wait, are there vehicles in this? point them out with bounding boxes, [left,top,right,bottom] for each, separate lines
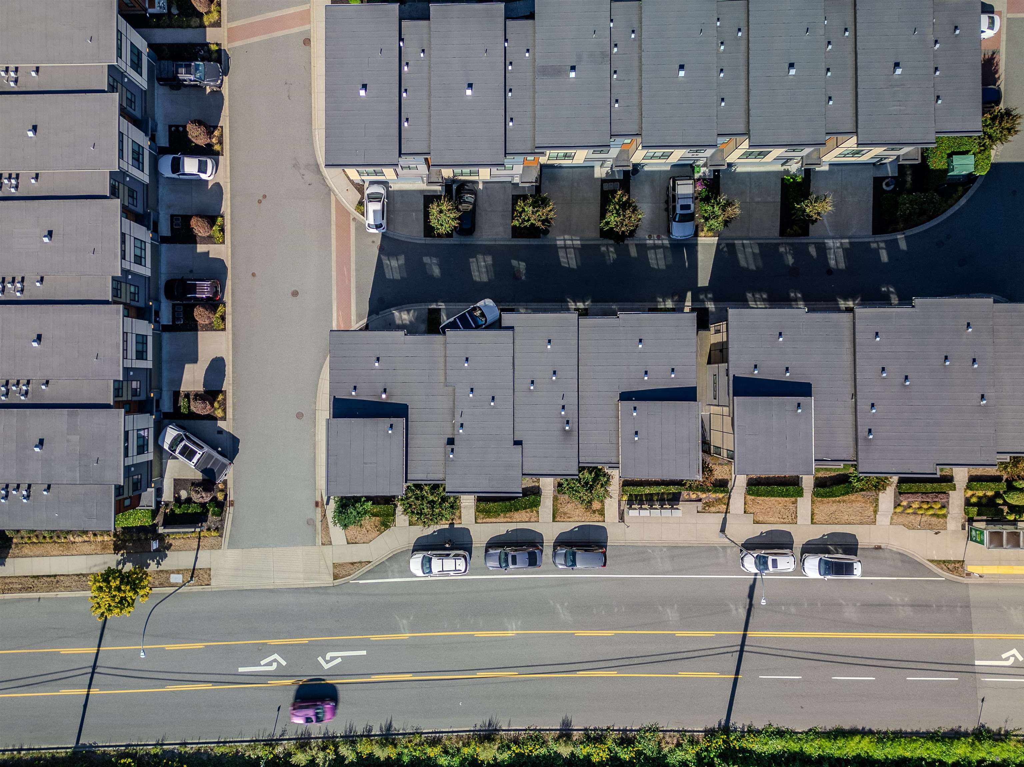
[362,182,389,235]
[440,298,500,334]
[667,175,699,240]
[165,275,225,304]
[409,550,471,580]
[983,81,1009,111]
[453,182,480,237]
[287,698,337,727]
[738,549,797,577]
[982,11,1007,41]
[800,552,863,582]
[552,545,608,573]
[158,152,218,180]
[159,58,226,89]
[484,547,543,575]
[162,426,235,481]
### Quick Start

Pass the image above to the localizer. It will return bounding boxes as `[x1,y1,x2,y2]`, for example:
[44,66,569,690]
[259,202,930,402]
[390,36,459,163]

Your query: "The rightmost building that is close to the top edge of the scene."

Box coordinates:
[824,0,983,170]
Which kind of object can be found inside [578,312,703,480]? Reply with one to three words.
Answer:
house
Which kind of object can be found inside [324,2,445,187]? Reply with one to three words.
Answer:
house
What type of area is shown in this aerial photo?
residential area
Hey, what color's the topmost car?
white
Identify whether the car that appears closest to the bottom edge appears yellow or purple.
purple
